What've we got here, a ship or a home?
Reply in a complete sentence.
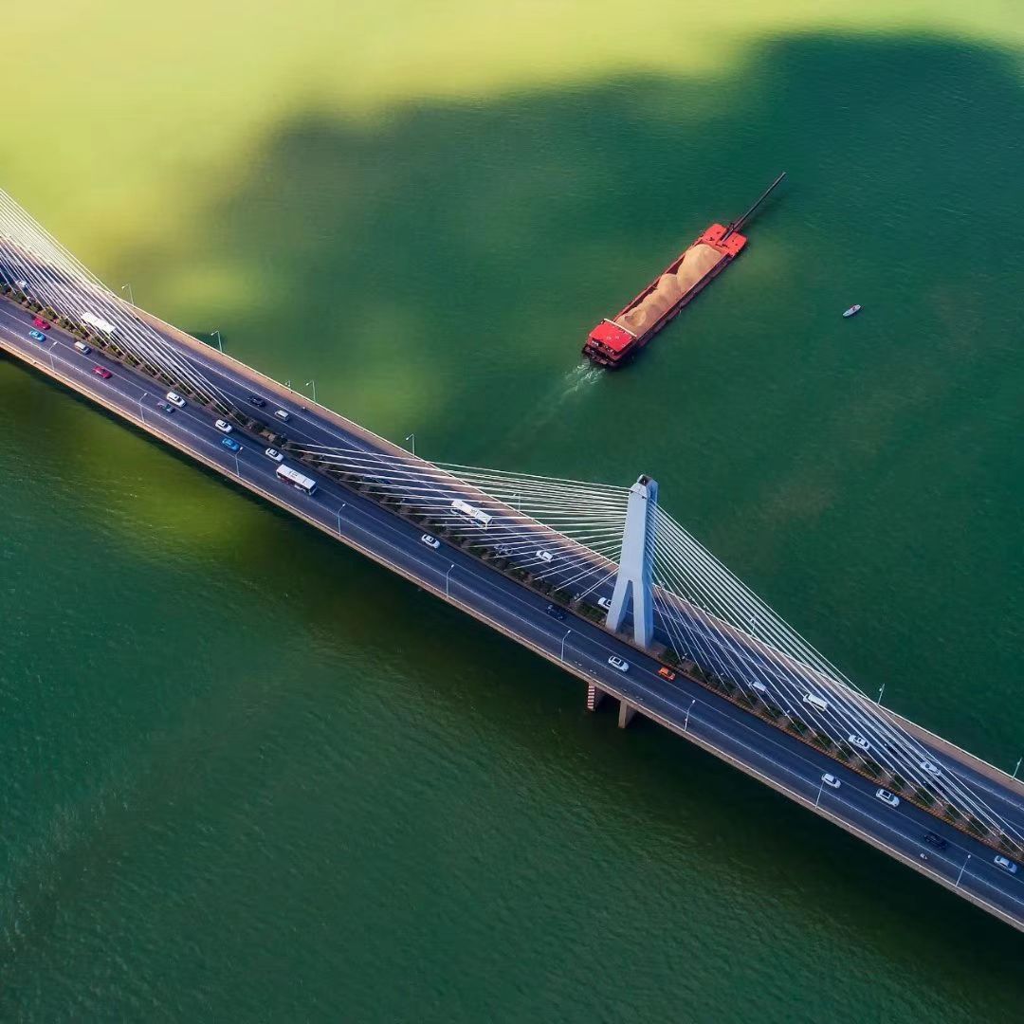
The image shows a ship.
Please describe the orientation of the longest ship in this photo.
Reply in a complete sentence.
The longest ship runs on a diagonal in the image.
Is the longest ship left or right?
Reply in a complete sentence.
The longest ship appears in the right half of the scene.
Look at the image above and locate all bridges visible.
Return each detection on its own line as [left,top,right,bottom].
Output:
[0,181,1024,933]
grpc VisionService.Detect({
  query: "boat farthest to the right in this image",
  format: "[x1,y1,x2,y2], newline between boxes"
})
[841,304,860,318]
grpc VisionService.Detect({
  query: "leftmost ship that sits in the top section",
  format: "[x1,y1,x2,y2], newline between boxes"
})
[584,169,786,371]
